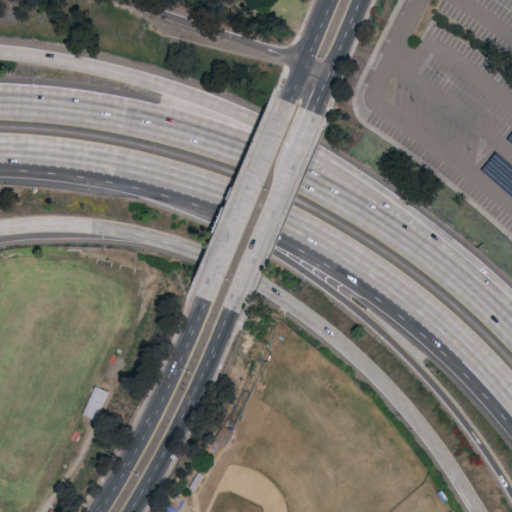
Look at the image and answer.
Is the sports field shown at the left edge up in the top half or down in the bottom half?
bottom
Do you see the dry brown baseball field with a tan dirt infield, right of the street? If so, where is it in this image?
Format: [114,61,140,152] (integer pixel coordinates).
[196,318,452,512]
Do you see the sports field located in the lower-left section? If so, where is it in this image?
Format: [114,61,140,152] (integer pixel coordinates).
[0,257,139,512]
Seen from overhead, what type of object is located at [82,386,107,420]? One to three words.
building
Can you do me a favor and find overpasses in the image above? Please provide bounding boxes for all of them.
[187,90,328,316]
